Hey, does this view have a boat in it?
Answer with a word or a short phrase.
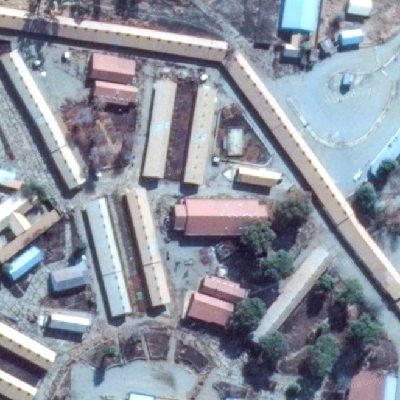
No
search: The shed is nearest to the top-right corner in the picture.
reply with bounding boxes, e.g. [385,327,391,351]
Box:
[347,0,372,16]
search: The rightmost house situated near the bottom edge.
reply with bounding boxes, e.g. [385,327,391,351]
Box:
[349,372,397,400]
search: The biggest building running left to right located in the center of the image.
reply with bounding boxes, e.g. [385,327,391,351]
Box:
[174,199,268,235]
